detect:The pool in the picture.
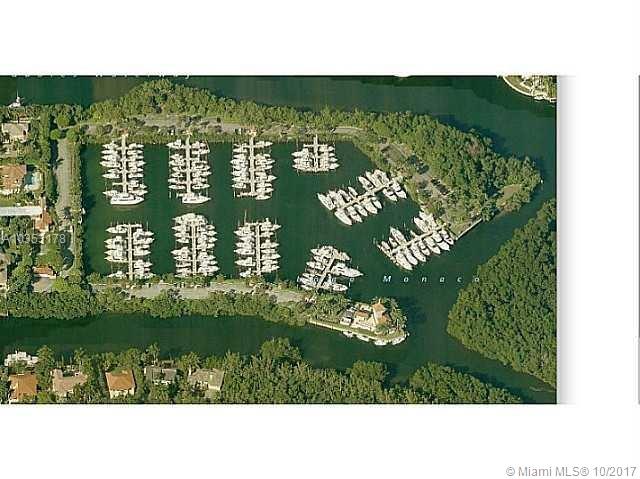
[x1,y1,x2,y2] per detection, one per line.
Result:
[27,174,41,187]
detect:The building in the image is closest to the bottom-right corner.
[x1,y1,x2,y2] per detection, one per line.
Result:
[354,302,394,331]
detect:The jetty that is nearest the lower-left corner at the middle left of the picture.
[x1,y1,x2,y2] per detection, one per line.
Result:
[114,224,145,285]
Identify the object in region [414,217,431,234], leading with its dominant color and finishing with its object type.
white boat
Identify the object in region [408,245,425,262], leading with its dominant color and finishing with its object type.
white boat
